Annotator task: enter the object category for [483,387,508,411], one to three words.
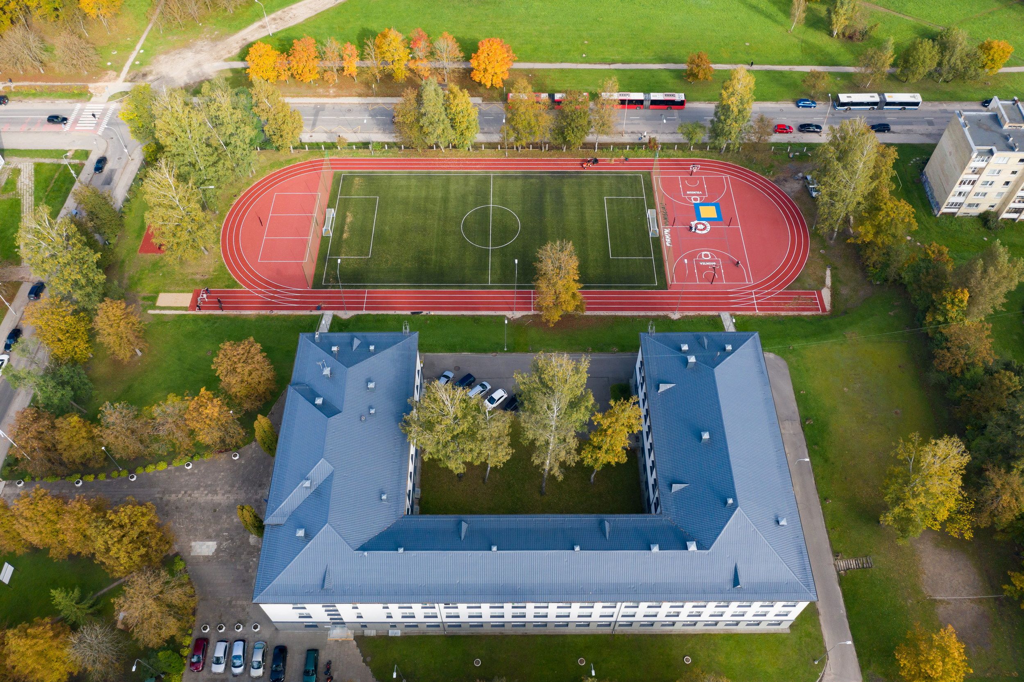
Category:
car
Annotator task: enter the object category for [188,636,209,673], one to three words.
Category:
car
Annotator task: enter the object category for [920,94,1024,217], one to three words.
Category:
building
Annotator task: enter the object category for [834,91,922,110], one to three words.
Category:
vehicle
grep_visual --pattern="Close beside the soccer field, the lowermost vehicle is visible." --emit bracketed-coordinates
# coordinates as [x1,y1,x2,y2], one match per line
[583,155,601,170]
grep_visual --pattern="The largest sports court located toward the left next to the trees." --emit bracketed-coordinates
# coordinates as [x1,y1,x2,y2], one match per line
[240,170,334,289]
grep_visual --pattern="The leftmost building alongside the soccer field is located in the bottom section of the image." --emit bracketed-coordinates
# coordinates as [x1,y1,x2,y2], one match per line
[248,324,819,651]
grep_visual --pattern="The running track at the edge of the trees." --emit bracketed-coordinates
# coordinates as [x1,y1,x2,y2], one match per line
[189,158,828,312]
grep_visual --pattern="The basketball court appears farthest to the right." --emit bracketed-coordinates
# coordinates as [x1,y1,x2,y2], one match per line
[651,171,790,290]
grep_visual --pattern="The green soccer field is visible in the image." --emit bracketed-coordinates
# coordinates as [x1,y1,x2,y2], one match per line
[311,170,668,290]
